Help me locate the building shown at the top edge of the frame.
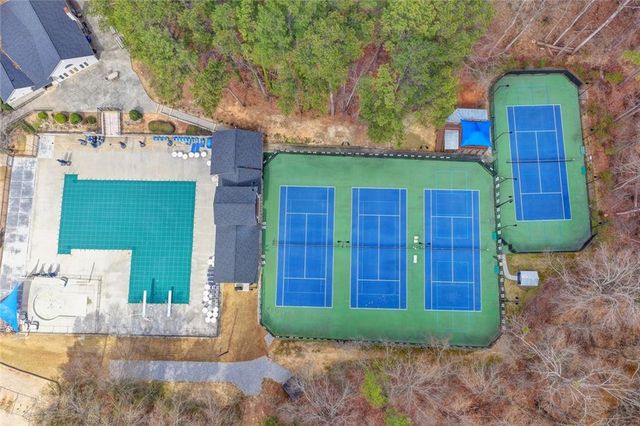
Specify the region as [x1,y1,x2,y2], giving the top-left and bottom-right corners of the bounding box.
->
[0,0,100,112]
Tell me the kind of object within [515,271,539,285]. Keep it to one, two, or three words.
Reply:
shed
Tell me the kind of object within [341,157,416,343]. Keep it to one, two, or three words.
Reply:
tennis court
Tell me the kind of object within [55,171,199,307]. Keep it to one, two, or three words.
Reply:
swimming pool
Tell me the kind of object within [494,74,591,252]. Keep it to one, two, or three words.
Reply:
tennis court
